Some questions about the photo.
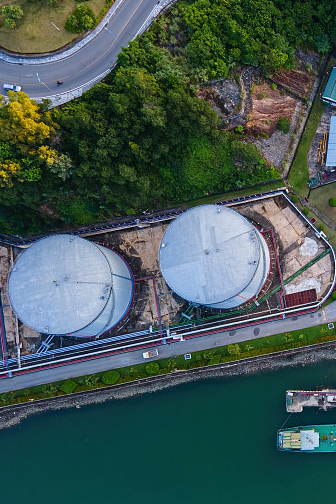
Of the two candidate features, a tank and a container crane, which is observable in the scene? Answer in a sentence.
Of the two, only a tank appears.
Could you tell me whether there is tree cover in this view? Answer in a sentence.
Yes, there is tree cover in the image.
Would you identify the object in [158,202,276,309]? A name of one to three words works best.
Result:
storage tank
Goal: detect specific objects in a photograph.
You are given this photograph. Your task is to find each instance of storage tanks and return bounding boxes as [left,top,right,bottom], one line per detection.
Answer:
[7,232,140,342]
[158,202,276,309]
